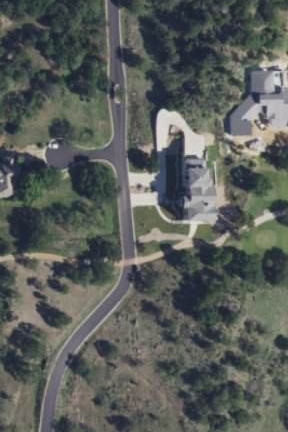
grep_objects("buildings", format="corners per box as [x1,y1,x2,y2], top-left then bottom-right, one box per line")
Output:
[230,71,288,136]
[184,160,218,223]
[0,156,14,198]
